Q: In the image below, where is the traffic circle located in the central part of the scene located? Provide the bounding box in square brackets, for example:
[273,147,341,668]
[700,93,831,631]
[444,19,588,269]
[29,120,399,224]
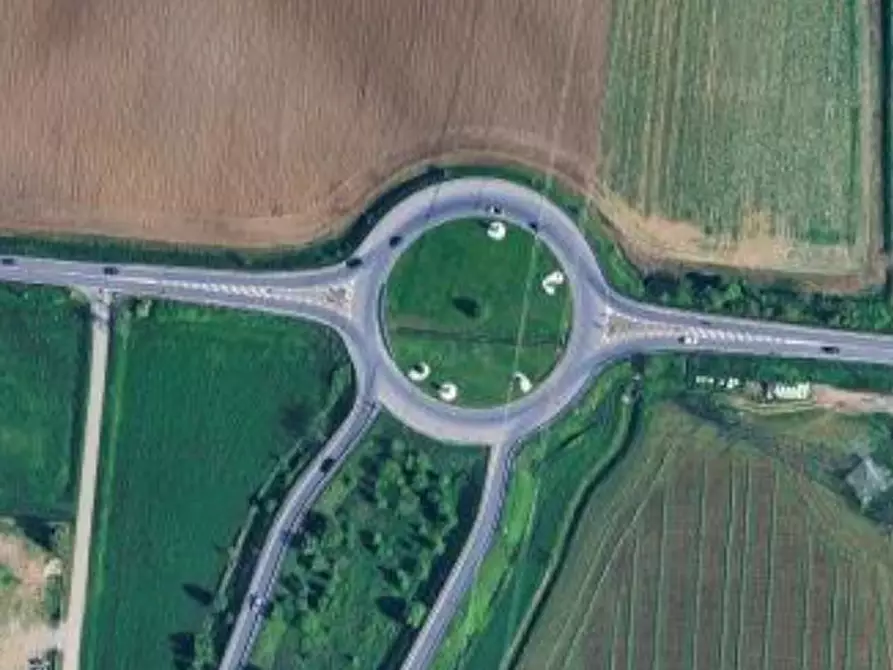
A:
[272,176,683,448]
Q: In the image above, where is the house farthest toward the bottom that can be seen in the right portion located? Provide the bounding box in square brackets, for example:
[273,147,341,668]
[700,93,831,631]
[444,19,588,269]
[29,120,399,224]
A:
[849,461,887,500]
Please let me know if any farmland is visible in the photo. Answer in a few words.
Yes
